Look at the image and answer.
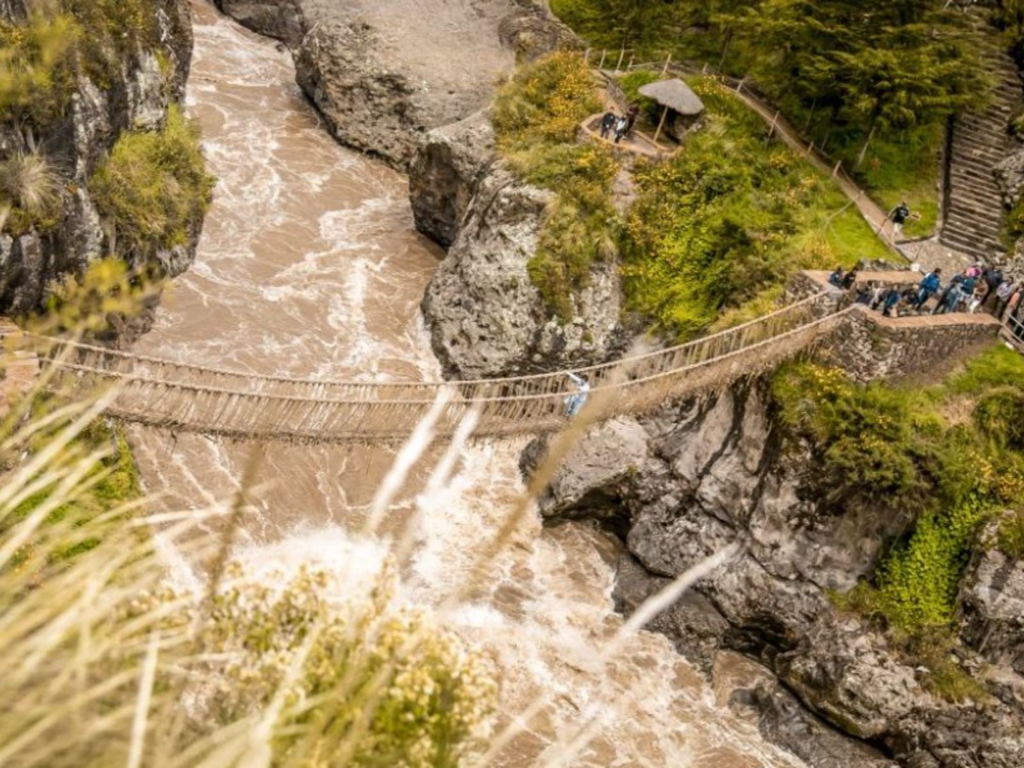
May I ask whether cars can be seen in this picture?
No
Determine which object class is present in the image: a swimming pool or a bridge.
bridge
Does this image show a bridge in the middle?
Yes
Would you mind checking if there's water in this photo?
Yes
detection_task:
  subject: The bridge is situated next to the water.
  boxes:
[21,286,863,463]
